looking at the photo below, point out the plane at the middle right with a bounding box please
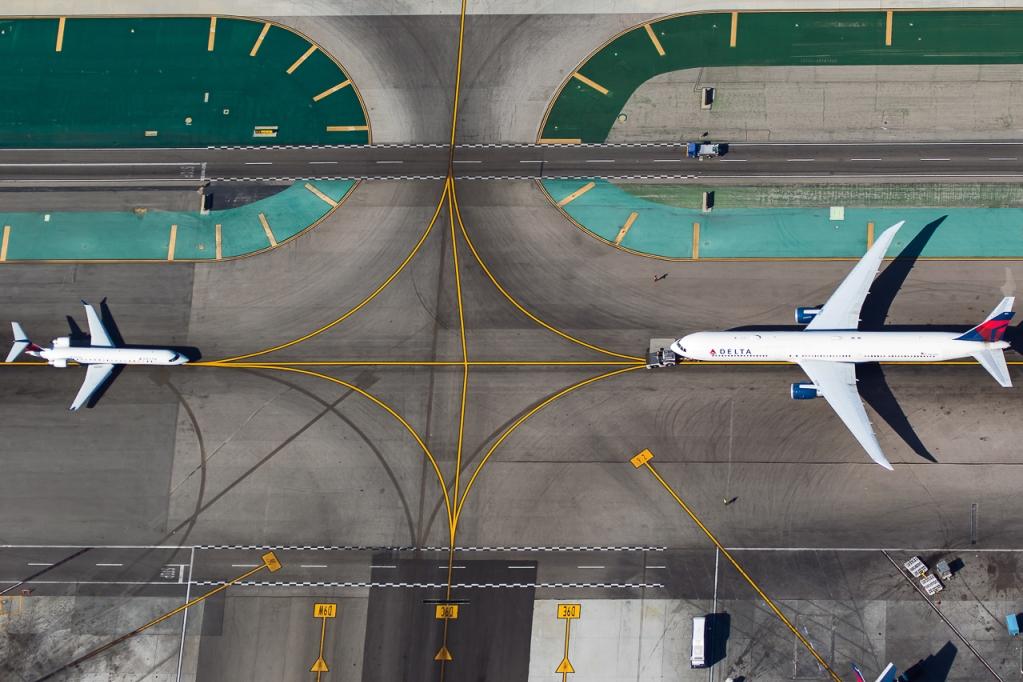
[669,220,1014,469]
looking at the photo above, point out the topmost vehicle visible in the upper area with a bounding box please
[686,142,719,160]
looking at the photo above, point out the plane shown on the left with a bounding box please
[7,301,189,410]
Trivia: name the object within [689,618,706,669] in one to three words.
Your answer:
vehicle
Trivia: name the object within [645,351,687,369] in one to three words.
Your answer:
work vehicle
